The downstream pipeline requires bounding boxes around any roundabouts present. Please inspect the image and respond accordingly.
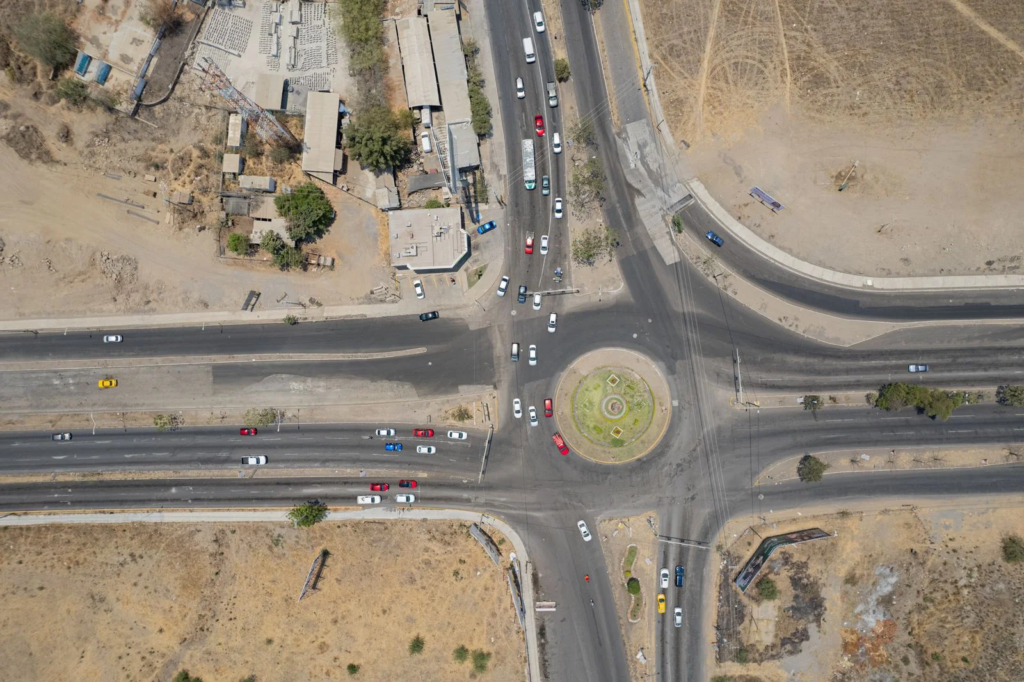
[555,348,671,464]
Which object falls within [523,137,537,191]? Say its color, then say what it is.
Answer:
white vehicle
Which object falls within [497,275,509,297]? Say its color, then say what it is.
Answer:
white vehicle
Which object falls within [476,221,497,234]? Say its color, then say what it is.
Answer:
blue vehicle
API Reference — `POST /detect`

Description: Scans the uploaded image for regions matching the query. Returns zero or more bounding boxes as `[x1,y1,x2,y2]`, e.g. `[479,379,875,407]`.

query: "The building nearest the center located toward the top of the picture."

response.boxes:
[388,207,470,271]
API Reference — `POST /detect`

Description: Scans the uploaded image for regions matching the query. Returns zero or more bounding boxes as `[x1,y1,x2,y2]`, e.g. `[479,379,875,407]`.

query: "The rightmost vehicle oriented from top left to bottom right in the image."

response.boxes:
[705,232,725,247]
